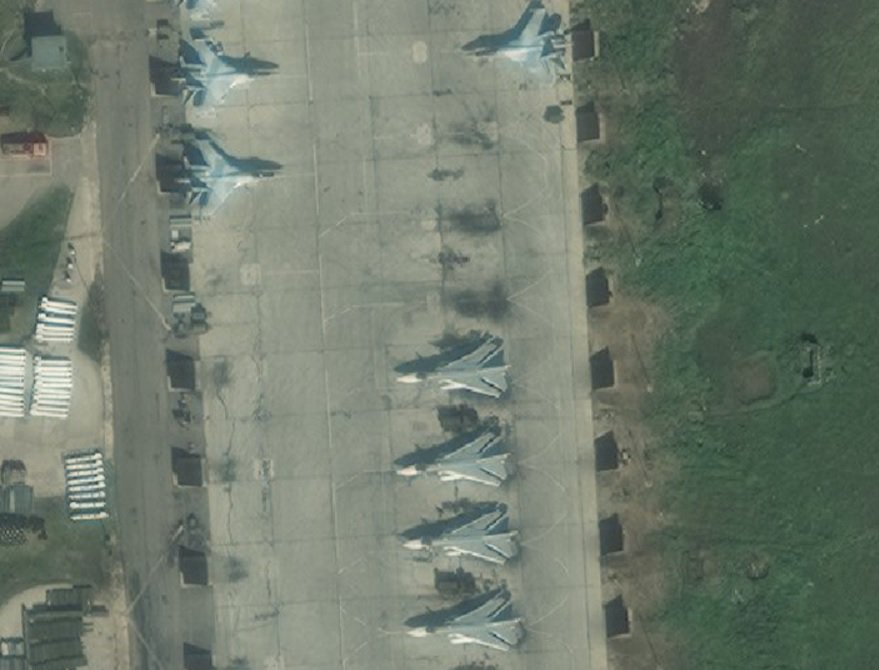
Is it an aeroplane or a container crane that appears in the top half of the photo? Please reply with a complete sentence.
There is an aeroplane in the top half of the photo.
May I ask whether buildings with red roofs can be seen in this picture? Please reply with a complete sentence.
No, the frame has no building with a red roof in it.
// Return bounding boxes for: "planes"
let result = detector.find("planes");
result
[172,40,281,117]
[403,506,518,560]
[407,592,523,646]
[464,8,573,85]
[176,141,284,218]
[396,342,512,395]
[394,432,512,485]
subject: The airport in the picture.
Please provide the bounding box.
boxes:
[90,0,606,670]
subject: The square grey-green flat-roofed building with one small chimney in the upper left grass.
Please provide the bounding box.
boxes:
[31,36,66,73]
